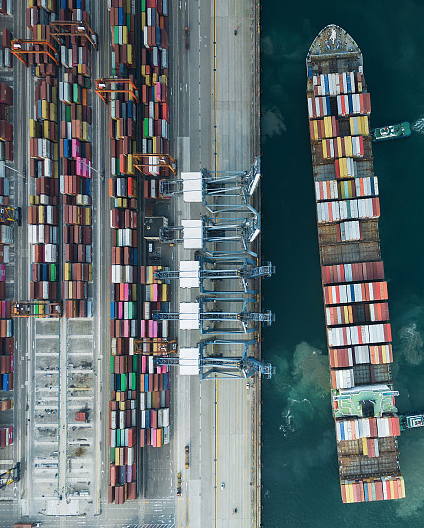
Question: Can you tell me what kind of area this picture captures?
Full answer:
The picture captures a port.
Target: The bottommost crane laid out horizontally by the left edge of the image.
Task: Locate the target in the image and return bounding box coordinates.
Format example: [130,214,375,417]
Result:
[9,298,60,319]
